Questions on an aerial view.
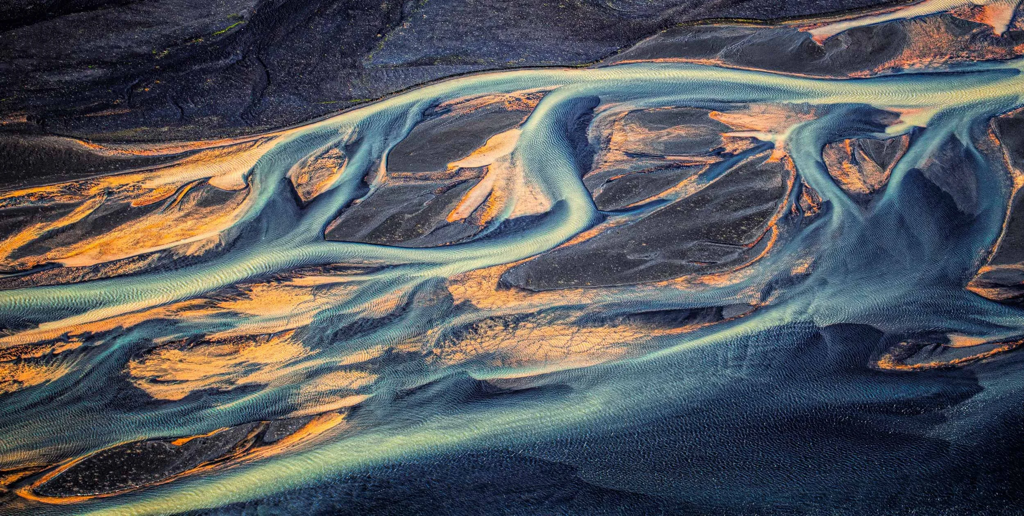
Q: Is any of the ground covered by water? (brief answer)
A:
Yes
